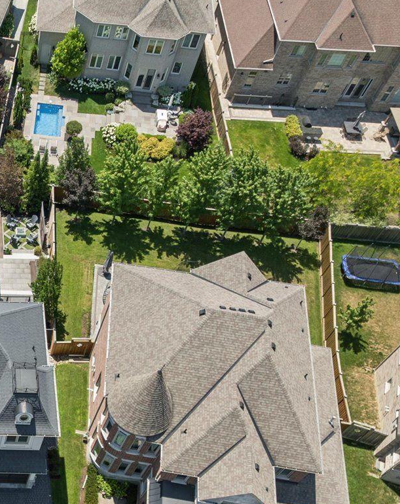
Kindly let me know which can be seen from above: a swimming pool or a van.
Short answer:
swimming pool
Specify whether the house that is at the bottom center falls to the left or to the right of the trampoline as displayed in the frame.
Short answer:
on its left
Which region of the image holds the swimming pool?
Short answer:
top left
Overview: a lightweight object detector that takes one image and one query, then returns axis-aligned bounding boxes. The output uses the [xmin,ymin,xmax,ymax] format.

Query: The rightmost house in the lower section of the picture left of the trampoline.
[84,251,351,504]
